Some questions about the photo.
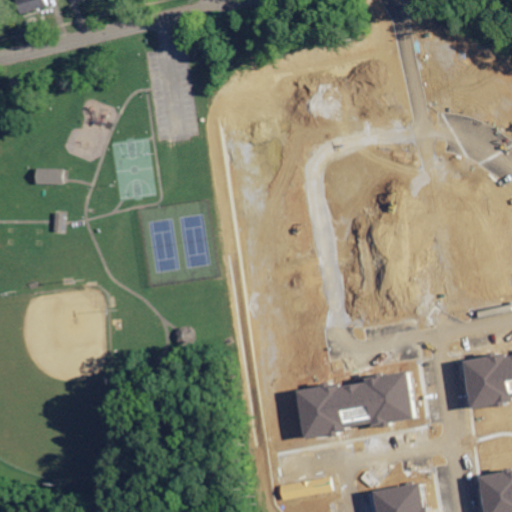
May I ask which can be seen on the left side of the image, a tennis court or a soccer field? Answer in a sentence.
It is a tennis court that can be seen on the left side of the image.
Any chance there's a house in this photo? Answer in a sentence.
Yes, I can see a house in this picture.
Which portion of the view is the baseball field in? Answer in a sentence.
The baseball field is in the bottom left part of the image.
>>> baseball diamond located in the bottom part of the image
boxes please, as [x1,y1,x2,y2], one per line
[0,288,110,482]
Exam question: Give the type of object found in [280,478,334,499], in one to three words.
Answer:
building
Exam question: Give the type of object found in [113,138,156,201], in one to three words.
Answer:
basketball court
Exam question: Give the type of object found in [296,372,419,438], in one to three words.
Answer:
house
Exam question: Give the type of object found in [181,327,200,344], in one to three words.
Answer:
gazebo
